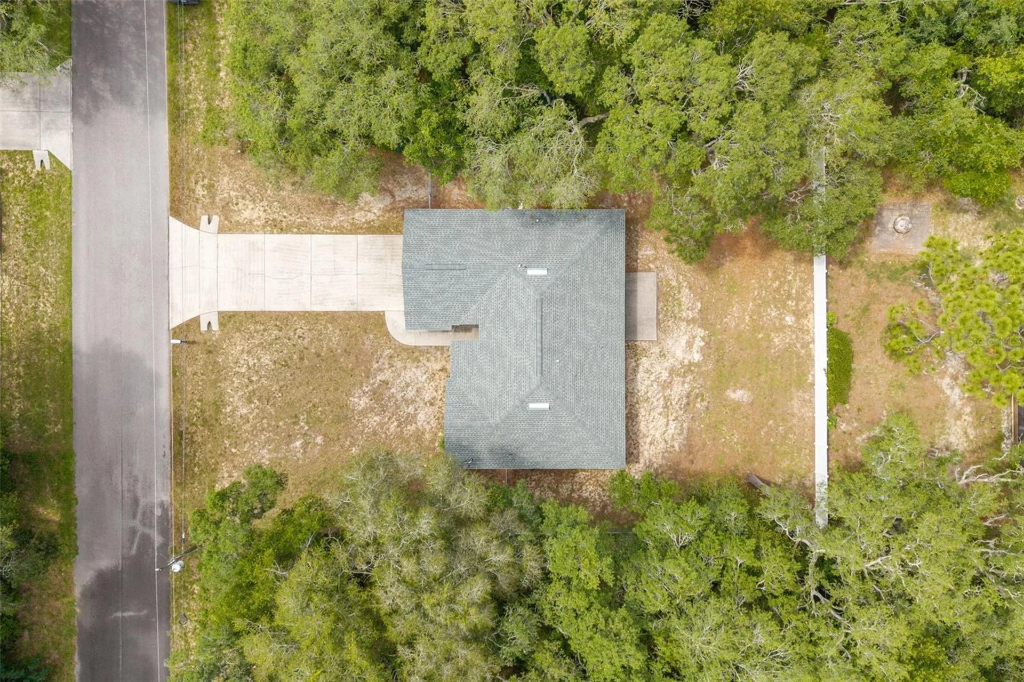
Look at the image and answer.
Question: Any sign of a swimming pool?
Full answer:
No, this view has no swimming pool in it.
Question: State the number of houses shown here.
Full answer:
I count 1 house.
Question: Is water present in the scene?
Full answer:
No, no water is visible.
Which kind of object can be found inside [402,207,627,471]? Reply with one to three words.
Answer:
house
